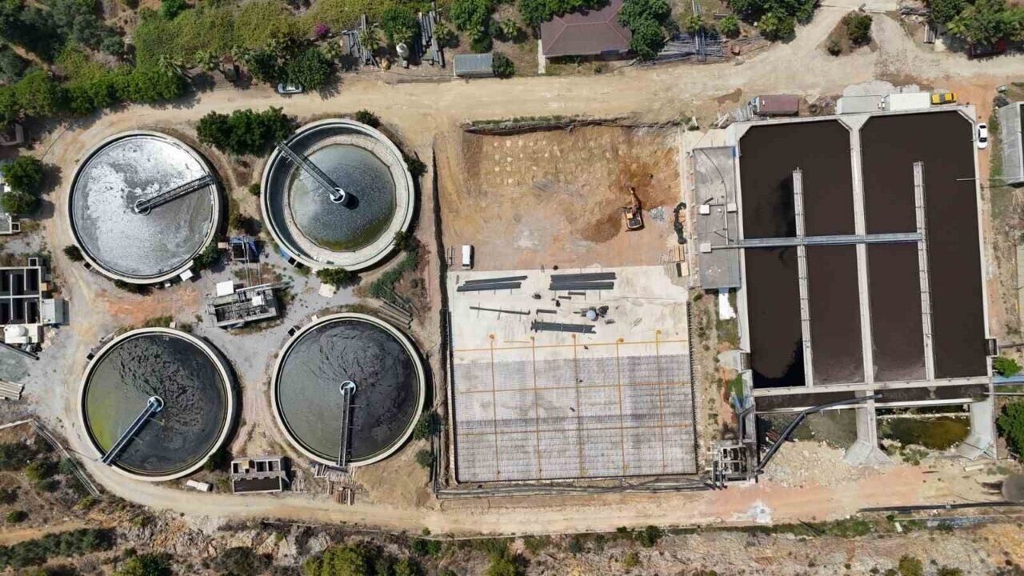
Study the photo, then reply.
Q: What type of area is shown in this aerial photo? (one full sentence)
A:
This image shows an industrial area.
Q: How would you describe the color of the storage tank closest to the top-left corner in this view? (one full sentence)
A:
From above, the storage tank closest to the top-left corner appears white.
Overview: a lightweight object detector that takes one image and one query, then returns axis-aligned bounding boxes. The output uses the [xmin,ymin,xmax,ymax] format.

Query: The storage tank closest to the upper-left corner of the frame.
[67,130,226,283]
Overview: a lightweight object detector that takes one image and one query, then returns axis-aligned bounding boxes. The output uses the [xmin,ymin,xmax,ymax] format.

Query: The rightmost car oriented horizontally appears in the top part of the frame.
[932,91,958,103]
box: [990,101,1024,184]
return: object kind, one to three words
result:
shed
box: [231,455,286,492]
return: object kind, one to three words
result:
storage tank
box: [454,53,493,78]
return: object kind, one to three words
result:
shed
